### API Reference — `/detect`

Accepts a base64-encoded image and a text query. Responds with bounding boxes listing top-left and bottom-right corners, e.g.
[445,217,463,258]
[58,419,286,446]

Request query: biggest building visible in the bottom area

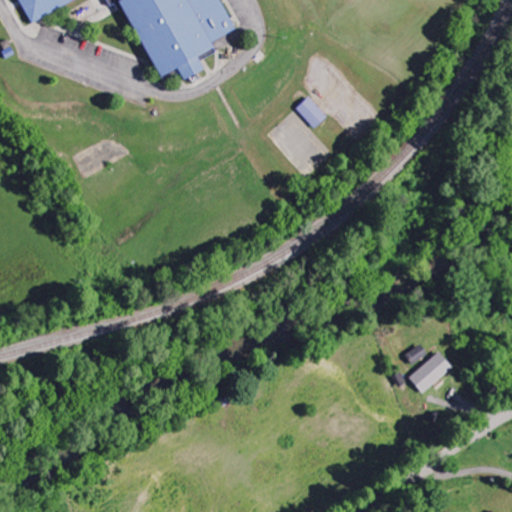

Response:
[409,352,452,392]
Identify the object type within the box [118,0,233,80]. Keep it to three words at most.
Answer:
building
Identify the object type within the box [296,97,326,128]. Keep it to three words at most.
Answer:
shed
